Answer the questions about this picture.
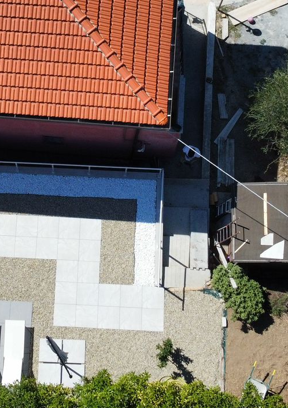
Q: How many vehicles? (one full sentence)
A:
Not a single vehicle can be seen.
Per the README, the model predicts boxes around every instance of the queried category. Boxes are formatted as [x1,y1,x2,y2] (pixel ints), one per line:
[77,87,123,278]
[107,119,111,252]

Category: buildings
[0,0,184,169]
[231,183,288,265]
